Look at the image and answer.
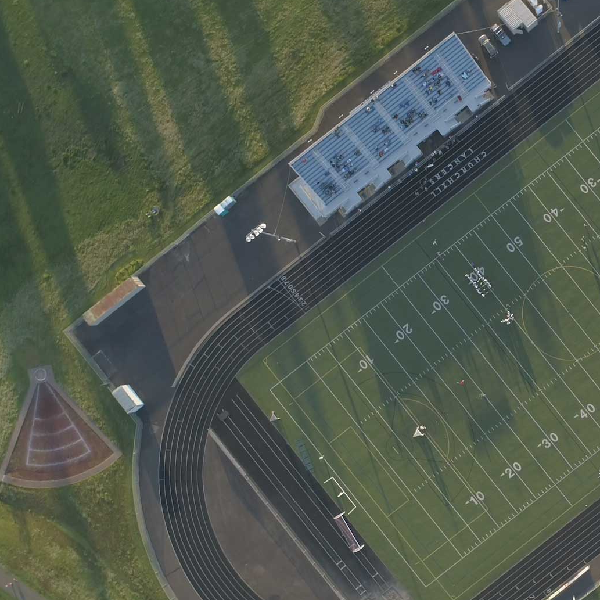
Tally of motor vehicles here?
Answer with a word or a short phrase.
2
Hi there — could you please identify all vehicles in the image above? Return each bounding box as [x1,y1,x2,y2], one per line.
[479,34,499,59]
[490,21,512,49]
